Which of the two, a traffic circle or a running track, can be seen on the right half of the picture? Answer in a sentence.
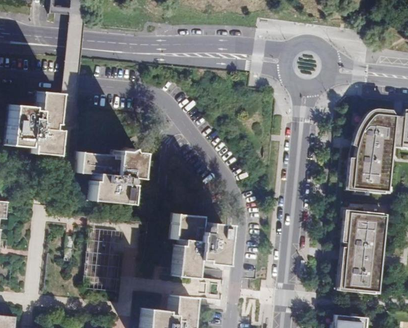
There is a traffic circle on the right half of the picture.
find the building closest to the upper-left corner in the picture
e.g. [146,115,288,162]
[4,91,67,157]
